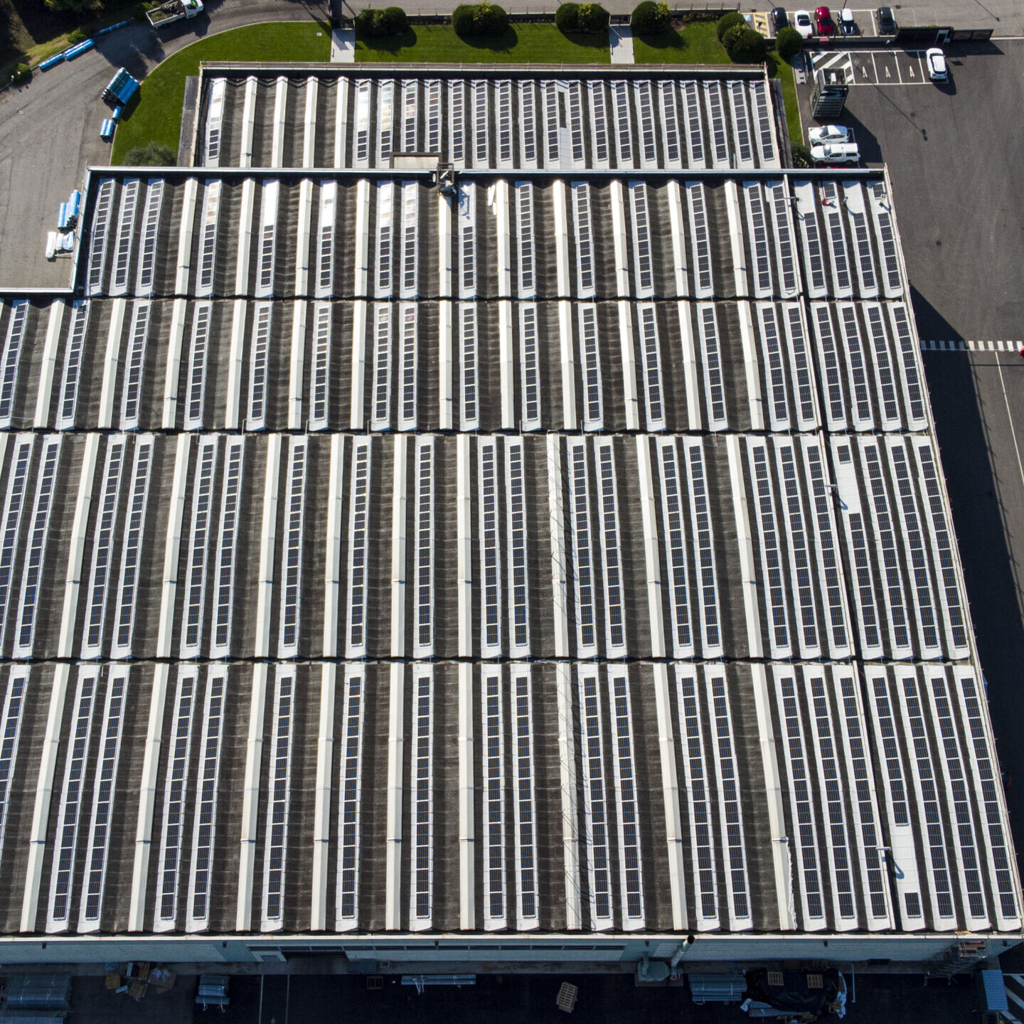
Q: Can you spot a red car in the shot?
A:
Yes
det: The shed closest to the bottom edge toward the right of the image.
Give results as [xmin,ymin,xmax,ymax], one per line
[973,970,1008,1014]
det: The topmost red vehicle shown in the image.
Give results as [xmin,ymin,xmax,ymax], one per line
[815,5,834,33]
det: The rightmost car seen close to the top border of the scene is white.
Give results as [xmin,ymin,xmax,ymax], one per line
[928,47,949,76]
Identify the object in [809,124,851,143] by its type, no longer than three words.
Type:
car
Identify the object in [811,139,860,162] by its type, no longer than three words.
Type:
truck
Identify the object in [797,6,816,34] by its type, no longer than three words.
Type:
car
